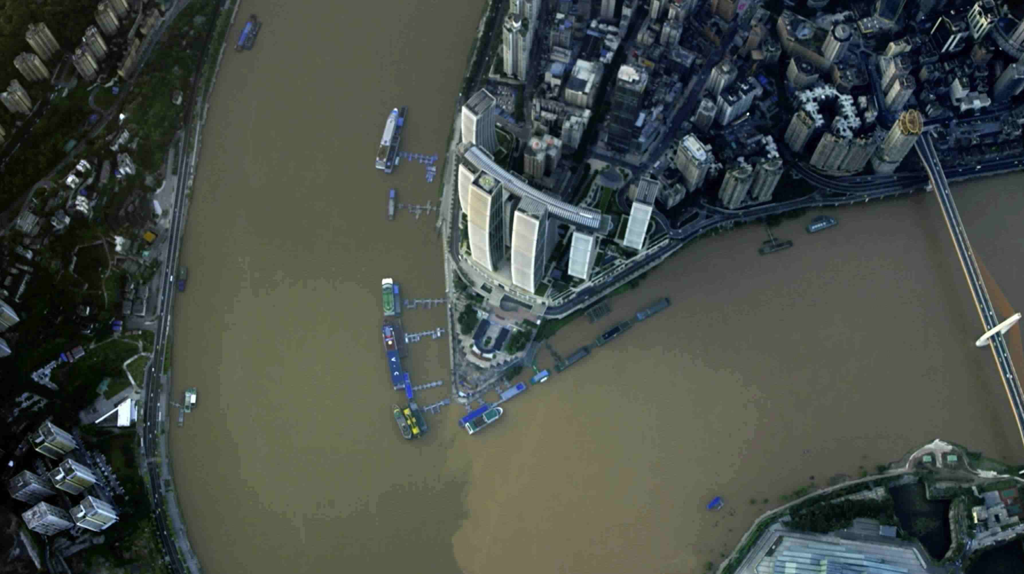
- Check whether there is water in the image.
Yes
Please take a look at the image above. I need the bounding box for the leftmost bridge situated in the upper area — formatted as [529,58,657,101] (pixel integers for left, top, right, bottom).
[460,148,612,237]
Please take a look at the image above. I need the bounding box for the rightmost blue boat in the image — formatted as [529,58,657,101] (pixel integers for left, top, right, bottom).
[805,216,838,233]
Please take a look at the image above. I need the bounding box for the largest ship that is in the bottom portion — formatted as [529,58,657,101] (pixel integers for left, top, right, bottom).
[383,325,405,391]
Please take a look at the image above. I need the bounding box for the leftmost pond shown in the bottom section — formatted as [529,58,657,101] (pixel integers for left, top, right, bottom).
[890,483,951,559]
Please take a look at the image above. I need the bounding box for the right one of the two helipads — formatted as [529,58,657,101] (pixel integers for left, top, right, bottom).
[835,26,849,38]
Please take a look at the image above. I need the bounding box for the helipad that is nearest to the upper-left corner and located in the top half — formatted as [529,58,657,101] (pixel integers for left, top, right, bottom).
[478,176,496,192]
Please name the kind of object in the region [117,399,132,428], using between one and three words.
building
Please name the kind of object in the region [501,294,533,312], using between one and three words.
building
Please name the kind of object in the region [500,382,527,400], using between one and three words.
ship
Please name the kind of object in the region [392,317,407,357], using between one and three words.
pier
